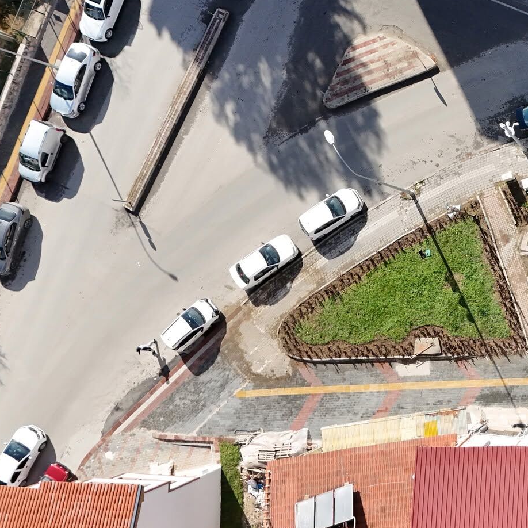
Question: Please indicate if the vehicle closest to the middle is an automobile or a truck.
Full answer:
Specifically, the vehicle closest to the middle is an automobile.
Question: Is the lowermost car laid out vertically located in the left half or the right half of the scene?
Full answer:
It is on the left.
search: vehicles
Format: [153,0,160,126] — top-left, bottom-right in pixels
[81,0,124,43]
[51,41,105,118]
[0,426,51,484]
[227,236,299,289]
[17,121,68,184]
[154,298,223,353]
[0,204,35,278]
[296,188,365,240]
[37,464,79,485]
